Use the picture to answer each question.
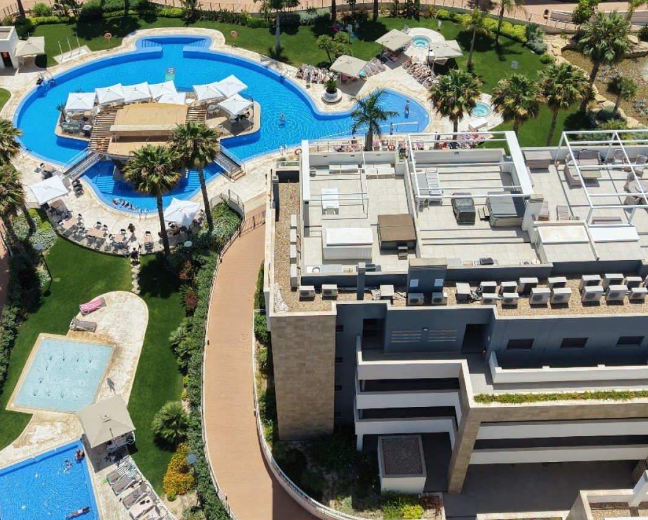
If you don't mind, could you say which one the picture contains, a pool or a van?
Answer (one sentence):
Looking from above, you can make out a pool.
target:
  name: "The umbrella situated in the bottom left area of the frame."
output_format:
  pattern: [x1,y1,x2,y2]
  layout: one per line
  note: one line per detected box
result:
[80,397,137,455]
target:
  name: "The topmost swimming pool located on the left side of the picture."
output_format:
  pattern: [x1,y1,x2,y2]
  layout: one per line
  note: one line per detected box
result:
[13,36,430,214]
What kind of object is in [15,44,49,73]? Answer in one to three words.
umbrella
